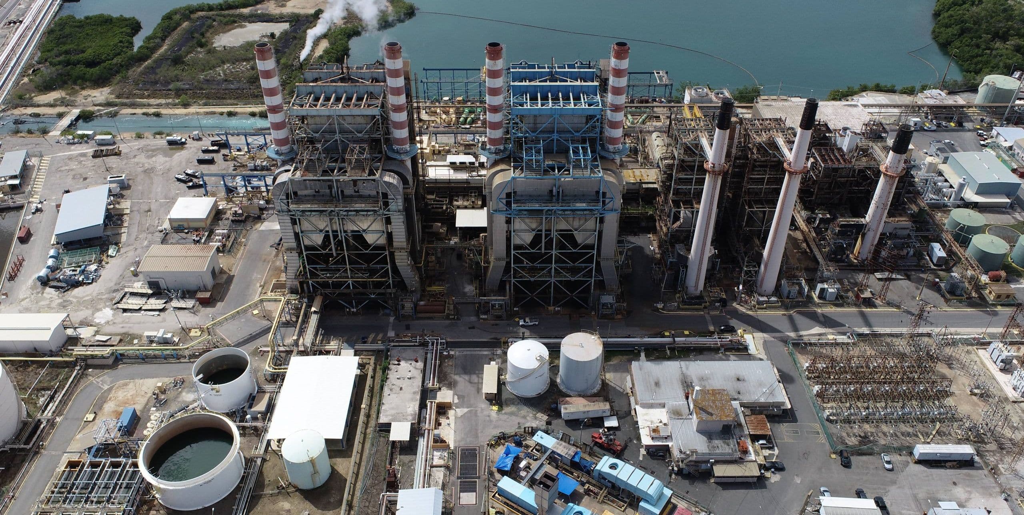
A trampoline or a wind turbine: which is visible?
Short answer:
wind turbine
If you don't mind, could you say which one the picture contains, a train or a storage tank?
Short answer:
storage tank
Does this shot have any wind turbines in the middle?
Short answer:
No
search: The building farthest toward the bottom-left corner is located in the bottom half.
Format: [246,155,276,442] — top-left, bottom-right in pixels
[0,313,86,352]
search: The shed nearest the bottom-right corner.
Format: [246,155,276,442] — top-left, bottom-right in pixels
[985,284,1017,302]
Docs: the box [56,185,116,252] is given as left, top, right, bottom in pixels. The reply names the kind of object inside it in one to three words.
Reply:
shed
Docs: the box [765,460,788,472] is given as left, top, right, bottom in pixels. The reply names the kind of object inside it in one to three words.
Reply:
vehicle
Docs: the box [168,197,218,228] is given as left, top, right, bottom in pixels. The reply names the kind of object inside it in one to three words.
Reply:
building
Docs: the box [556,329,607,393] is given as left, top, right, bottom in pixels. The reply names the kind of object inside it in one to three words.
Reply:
storage tank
